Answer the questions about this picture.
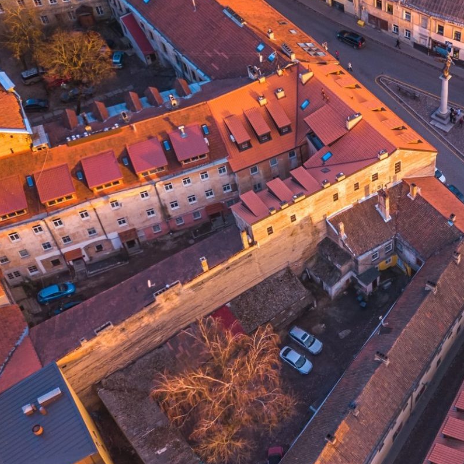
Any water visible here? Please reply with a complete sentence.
No, there is no water in the image.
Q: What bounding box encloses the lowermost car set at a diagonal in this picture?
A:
[279,347,313,375]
